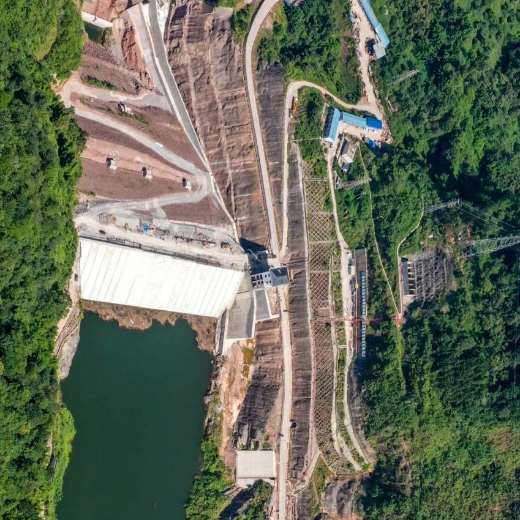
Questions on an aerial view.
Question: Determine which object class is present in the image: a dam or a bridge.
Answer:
dam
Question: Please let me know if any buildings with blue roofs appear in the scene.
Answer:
Yes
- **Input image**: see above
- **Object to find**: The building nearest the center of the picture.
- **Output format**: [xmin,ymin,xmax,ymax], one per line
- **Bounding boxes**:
[254,265,292,290]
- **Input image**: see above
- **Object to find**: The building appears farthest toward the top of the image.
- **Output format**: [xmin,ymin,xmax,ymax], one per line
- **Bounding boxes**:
[356,0,379,28]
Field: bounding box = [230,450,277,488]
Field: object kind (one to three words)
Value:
building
